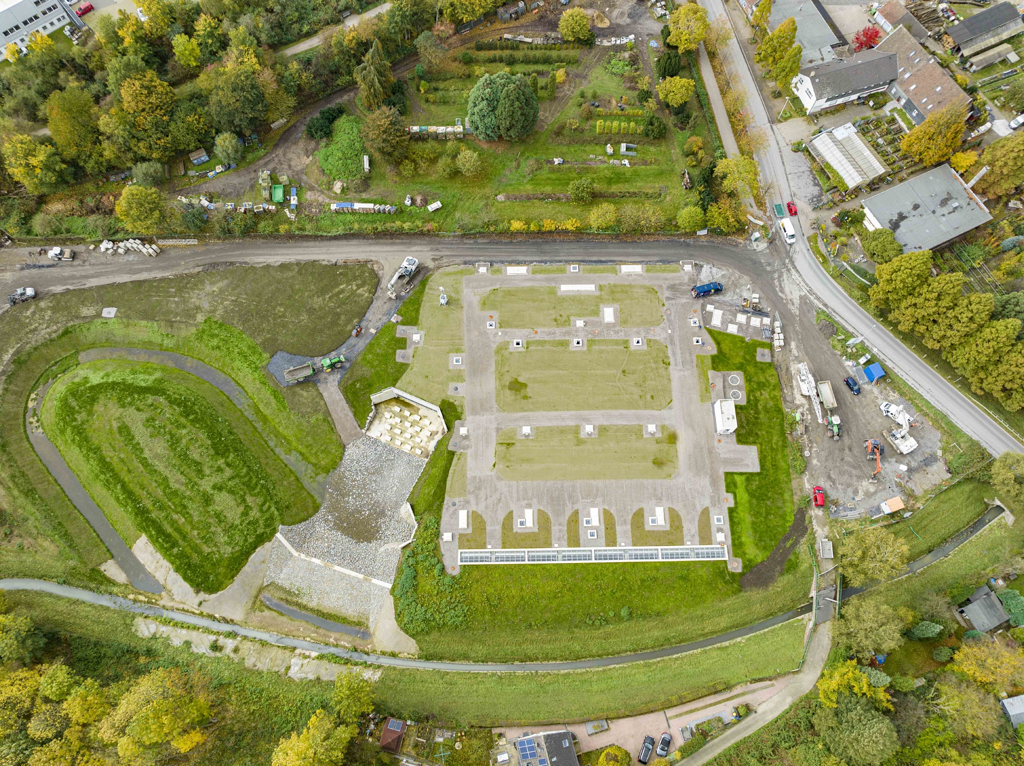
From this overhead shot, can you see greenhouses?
Yes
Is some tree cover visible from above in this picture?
Yes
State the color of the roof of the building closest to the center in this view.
white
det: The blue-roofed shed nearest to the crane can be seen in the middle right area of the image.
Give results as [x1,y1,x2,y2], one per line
[858,363,886,385]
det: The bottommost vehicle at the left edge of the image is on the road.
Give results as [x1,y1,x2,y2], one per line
[9,286,35,306]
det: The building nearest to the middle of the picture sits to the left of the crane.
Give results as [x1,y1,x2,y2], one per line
[711,398,738,433]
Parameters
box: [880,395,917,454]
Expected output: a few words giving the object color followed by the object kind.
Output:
white work vehicle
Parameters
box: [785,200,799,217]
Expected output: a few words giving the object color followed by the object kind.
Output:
red car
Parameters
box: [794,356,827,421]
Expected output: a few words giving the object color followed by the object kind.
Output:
white crane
